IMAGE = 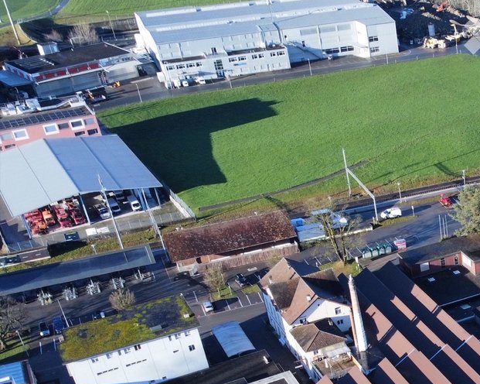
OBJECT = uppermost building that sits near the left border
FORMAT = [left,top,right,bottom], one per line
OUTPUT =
[0,39,145,102]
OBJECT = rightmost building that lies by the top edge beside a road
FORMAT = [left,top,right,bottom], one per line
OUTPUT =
[128,0,398,85]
